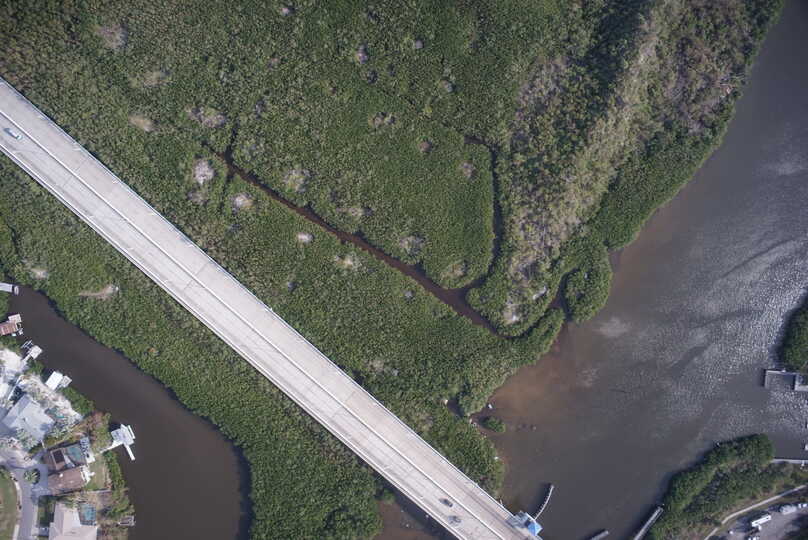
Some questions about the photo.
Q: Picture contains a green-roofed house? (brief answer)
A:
No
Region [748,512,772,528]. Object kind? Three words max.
camper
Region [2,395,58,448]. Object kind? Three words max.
house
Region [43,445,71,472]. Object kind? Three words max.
building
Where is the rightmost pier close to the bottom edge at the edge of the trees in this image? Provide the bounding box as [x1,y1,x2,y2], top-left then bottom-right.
[626,504,664,540]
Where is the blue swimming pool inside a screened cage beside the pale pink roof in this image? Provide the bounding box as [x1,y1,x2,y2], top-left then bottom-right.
[80,503,97,527]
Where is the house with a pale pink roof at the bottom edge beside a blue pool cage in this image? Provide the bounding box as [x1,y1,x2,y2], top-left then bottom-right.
[55,501,100,540]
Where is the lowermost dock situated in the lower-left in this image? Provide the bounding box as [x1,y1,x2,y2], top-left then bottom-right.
[99,423,137,461]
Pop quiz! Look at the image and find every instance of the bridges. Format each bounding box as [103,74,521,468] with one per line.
[0,76,541,540]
